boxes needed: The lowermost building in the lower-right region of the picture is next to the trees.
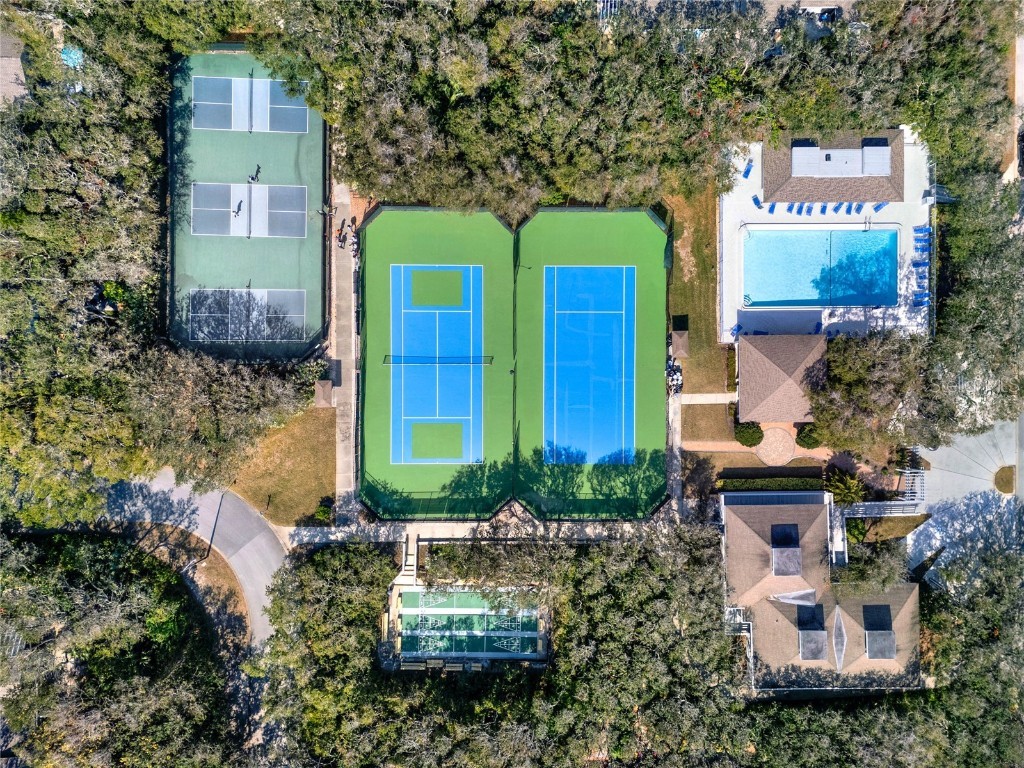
[724,504,919,689]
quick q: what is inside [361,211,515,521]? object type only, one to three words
tennis court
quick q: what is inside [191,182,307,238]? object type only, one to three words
sports court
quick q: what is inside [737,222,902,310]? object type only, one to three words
swimming pool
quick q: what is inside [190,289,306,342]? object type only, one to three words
sports court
